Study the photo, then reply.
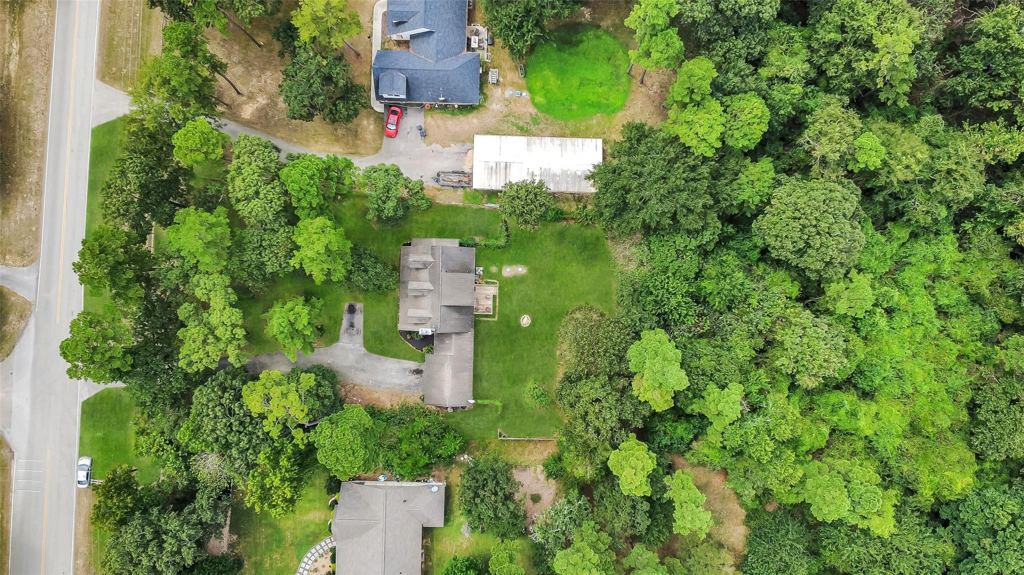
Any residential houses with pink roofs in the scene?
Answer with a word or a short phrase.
No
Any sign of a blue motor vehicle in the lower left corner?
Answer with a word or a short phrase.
No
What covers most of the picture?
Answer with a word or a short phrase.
trees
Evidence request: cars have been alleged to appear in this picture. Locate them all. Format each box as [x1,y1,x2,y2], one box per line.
[73,457,91,489]
[383,103,402,137]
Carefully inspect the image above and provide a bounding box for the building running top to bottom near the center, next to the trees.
[398,238,476,407]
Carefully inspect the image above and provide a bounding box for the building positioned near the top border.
[372,0,480,105]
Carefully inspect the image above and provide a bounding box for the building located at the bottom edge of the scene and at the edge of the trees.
[333,479,447,575]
